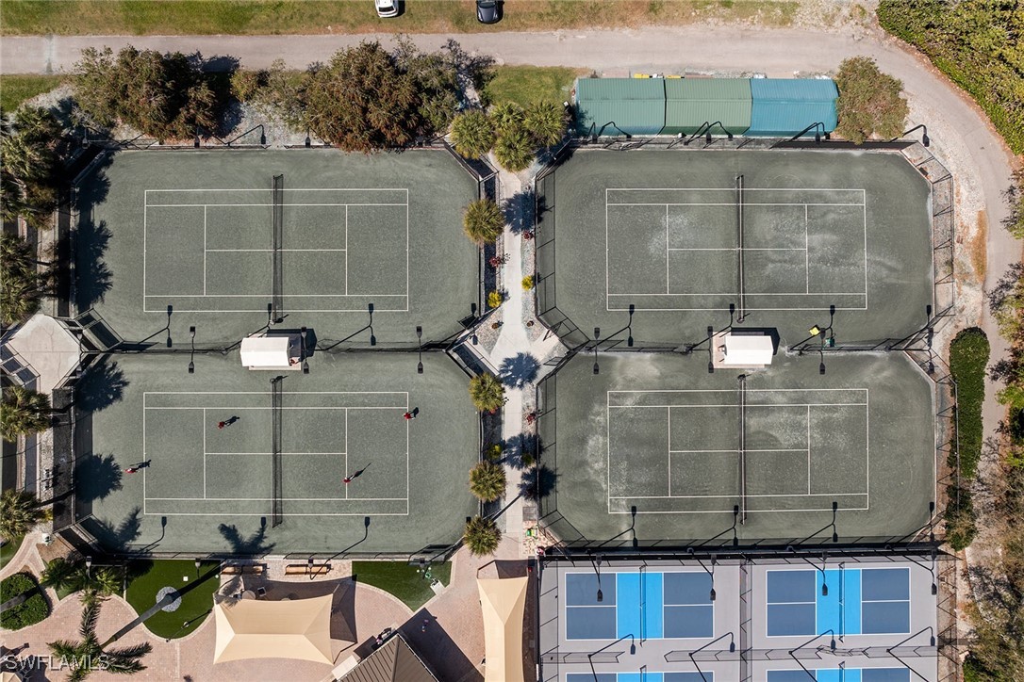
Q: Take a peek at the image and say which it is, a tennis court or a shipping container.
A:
tennis court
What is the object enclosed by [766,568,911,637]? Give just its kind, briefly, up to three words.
sports court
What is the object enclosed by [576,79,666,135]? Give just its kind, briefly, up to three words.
shed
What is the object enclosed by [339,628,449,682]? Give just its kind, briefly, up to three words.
building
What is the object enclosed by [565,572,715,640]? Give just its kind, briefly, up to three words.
sports court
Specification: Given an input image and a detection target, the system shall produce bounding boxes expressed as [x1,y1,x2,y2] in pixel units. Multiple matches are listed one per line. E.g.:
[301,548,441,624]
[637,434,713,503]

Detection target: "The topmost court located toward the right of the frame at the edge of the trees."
[537,147,937,350]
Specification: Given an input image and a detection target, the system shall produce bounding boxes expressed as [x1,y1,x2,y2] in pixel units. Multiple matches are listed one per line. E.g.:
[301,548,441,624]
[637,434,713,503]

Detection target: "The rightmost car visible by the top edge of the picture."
[477,0,502,24]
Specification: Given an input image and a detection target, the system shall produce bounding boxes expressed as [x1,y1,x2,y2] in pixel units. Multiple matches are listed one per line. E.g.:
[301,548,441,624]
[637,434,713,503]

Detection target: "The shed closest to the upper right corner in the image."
[742,79,842,135]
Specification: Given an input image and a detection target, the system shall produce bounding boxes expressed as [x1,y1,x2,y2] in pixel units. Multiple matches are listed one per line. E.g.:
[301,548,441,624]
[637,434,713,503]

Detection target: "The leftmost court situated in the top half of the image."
[72,147,480,352]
